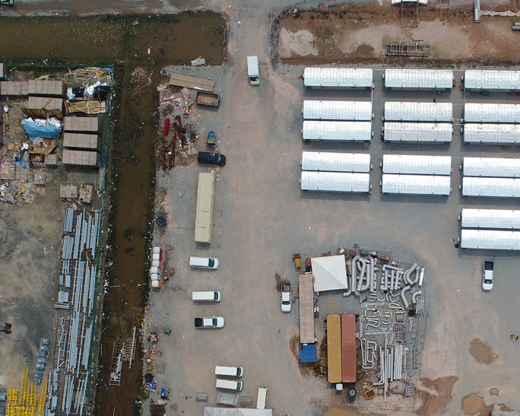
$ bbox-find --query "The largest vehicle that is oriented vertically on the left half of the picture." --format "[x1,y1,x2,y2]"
[196,172,217,245]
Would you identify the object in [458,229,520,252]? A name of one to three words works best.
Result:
building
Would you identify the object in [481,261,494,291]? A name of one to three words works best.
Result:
vehicle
